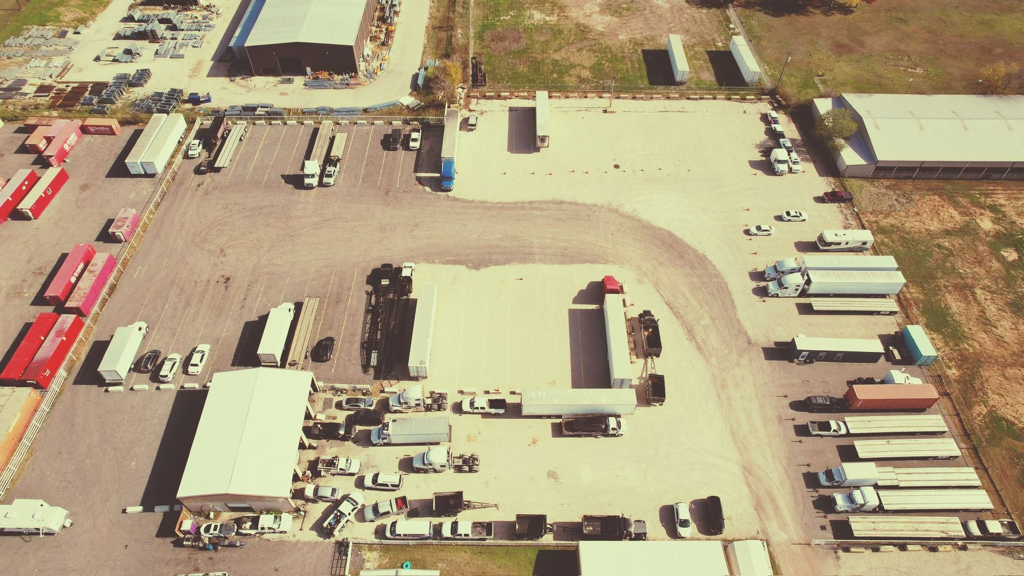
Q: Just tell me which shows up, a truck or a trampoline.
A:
truck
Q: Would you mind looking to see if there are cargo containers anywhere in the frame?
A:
Yes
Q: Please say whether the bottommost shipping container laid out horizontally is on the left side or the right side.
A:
right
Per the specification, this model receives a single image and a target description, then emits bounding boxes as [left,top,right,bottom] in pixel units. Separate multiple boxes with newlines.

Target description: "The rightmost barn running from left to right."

[840,94,1024,178]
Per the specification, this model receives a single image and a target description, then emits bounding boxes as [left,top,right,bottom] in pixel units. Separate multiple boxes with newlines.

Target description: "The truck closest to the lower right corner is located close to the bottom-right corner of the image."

[963,517,1024,539]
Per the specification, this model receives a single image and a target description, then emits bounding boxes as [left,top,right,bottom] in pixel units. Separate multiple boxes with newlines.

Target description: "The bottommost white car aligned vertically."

[673,502,692,538]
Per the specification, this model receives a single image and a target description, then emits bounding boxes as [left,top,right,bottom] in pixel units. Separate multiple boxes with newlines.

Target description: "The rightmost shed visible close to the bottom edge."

[727,541,775,576]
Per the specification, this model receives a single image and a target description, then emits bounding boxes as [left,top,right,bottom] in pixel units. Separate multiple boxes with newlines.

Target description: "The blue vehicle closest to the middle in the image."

[440,159,457,192]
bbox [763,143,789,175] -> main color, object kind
white truck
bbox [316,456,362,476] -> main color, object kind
white vehicle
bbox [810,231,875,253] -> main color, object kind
white camper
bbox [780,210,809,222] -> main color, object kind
white vehicle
